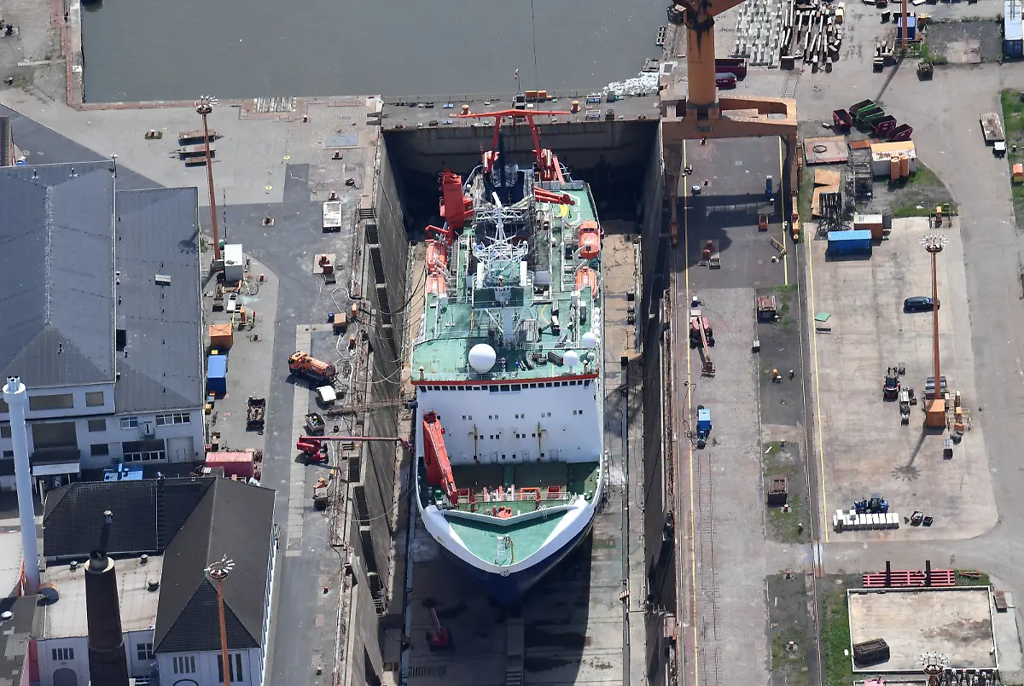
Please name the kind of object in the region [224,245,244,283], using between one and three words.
building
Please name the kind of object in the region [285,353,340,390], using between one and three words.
truck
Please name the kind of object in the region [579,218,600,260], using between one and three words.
boat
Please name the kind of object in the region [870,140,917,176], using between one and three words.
shed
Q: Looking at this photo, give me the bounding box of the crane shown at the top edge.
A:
[659,0,800,274]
